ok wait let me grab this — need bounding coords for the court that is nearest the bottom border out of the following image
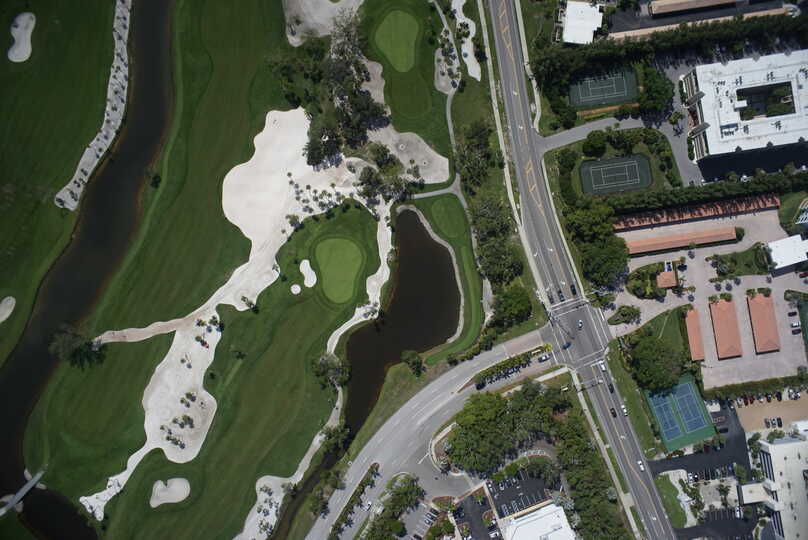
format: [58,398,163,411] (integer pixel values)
[645,374,720,454]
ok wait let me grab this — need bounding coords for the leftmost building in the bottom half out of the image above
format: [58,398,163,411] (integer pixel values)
[504,499,576,540]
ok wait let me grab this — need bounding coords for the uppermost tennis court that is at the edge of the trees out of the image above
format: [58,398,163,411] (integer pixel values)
[570,66,642,112]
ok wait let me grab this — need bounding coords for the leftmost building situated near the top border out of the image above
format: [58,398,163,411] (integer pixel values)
[555,1,604,46]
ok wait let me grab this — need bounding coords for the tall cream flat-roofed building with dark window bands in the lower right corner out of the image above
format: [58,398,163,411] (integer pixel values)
[739,417,808,540]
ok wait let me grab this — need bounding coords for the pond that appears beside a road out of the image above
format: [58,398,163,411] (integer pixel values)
[274,208,458,540]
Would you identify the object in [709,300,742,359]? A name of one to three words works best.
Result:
building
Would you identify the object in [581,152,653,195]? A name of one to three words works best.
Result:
tennis court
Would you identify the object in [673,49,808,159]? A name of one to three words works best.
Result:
building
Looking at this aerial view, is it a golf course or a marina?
golf course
